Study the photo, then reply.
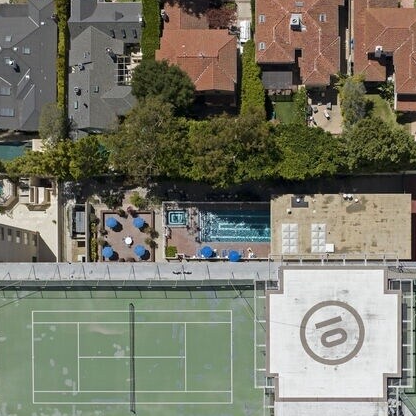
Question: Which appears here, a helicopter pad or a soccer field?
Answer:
helicopter pad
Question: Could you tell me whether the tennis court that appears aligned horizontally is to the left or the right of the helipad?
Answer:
on the left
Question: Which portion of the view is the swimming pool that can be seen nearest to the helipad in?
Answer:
center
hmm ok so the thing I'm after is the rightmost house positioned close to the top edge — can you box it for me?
[353,0,416,101]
